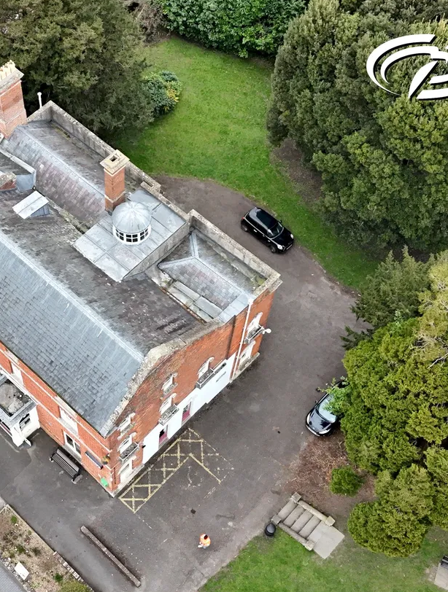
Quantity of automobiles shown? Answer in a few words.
2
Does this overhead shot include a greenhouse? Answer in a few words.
No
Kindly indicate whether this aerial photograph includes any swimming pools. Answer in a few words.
No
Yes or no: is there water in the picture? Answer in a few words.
No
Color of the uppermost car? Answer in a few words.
black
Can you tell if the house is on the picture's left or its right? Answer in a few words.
left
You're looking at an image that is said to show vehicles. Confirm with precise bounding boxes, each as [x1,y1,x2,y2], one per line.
[237,206,292,252]
[303,375,357,438]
